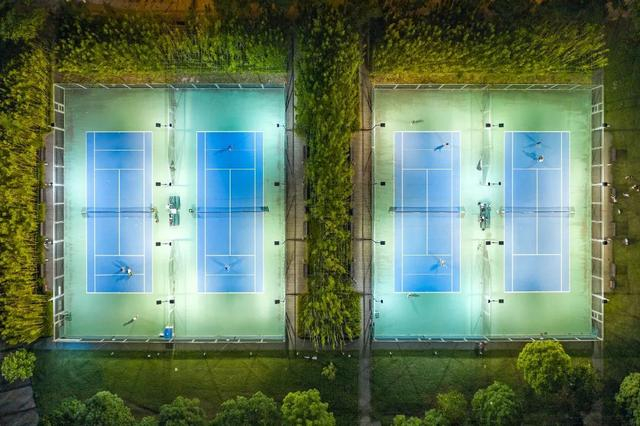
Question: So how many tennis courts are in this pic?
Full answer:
Looking from above, you can make out 4 tennis courts.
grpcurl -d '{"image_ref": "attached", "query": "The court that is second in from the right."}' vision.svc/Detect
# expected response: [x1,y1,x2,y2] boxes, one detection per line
[374,88,483,337]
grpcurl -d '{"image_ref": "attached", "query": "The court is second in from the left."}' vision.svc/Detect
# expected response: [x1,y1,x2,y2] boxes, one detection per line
[174,88,286,337]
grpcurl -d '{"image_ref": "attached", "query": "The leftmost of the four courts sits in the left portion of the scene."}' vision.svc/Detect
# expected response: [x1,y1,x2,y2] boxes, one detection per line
[64,88,174,337]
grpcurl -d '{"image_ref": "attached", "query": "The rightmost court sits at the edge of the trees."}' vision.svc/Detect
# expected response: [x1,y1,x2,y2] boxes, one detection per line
[483,88,592,337]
